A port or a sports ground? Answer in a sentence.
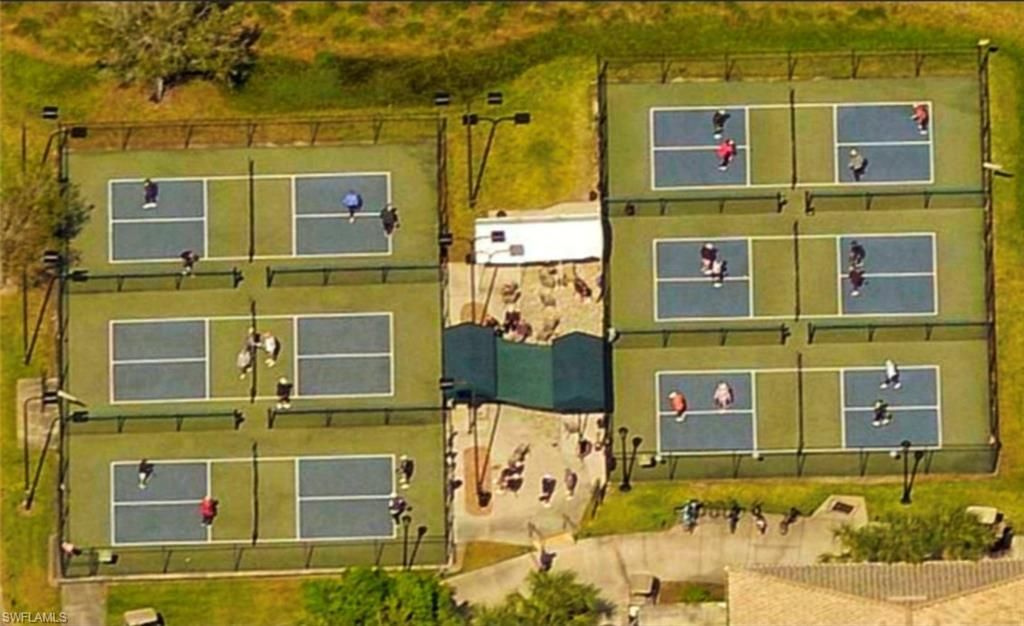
What you see here is a sports ground.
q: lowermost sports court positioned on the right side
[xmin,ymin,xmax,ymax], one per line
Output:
[607,339,995,481]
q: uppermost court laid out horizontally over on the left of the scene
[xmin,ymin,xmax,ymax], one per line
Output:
[63,142,444,291]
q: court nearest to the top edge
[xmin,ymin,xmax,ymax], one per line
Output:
[603,76,985,215]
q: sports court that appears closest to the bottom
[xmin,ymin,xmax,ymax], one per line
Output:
[60,423,447,578]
